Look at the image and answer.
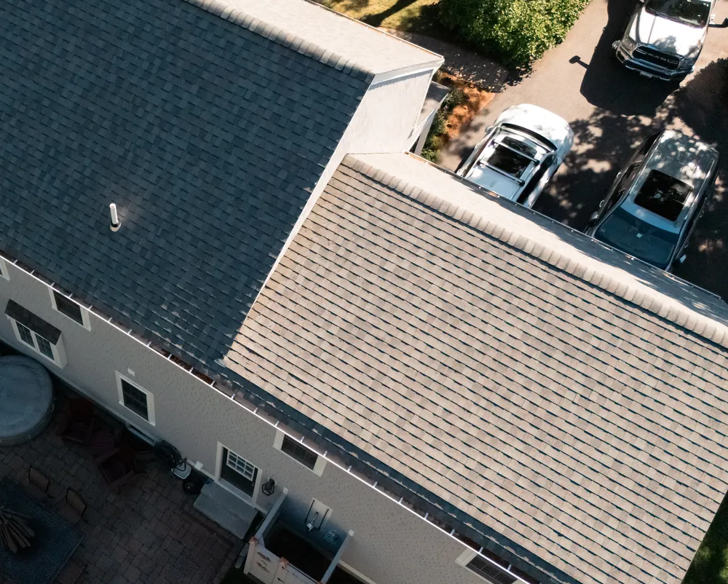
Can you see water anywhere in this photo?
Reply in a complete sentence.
No, the picture contains no water.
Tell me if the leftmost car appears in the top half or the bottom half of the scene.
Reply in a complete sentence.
It is in the top half that the leftmost car appears.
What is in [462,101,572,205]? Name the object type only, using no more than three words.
car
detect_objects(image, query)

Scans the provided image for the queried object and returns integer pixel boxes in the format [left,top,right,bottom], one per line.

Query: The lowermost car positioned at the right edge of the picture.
[586,123,725,270]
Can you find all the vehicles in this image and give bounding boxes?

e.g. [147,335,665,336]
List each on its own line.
[462,101,572,205]
[586,123,725,270]
[610,0,728,87]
